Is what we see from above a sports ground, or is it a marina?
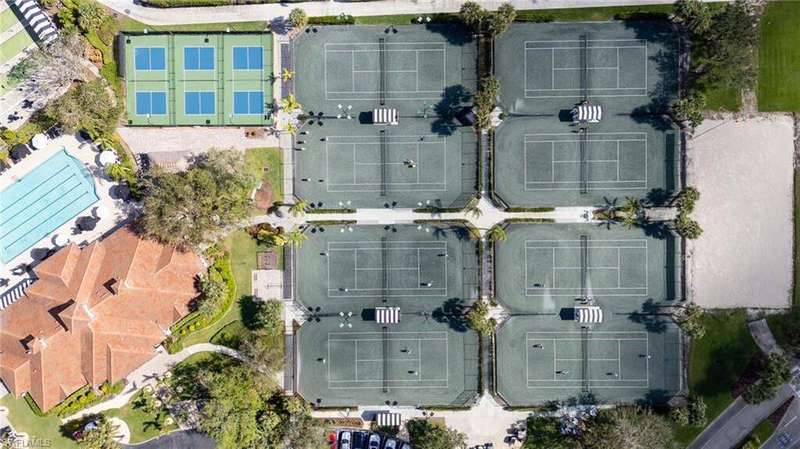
sports ground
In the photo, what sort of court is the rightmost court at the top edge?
tennis court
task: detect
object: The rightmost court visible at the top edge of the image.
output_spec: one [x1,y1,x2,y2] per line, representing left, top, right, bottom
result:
[495,22,681,113]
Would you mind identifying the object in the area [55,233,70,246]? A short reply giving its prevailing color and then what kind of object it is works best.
white umbrella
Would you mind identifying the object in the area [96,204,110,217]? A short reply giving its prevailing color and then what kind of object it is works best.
white umbrella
